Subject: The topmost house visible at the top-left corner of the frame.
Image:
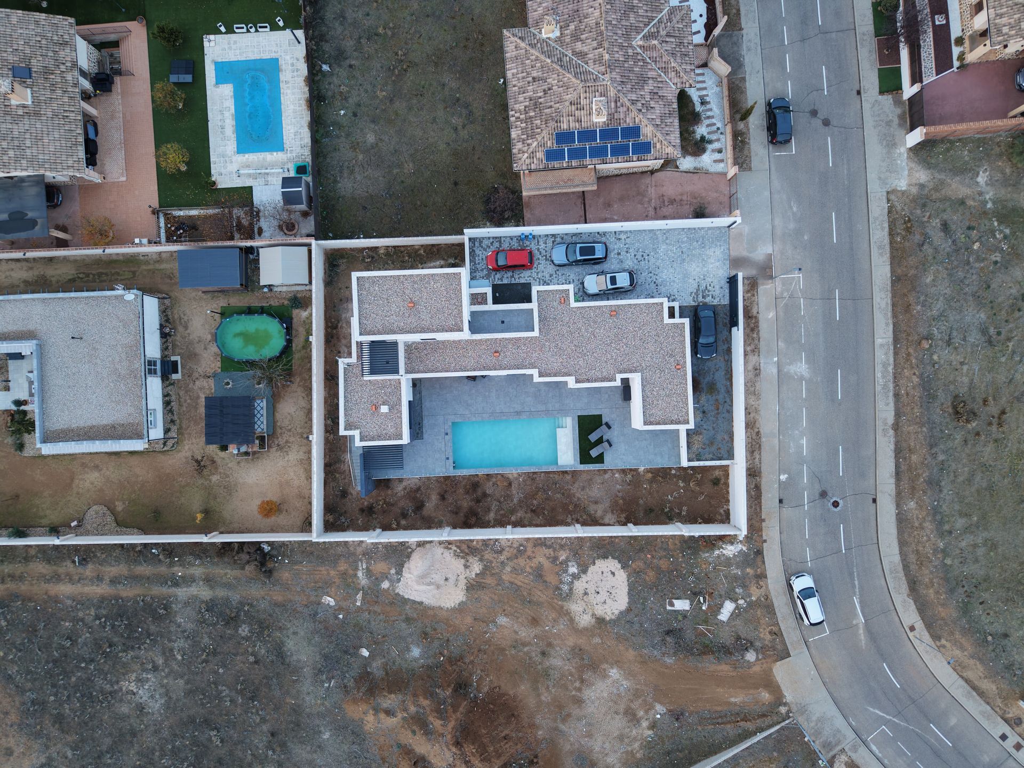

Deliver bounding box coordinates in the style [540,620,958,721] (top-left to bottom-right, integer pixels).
[0,14,108,186]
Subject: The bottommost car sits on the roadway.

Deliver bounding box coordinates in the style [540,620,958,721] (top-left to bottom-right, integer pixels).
[788,572,826,628]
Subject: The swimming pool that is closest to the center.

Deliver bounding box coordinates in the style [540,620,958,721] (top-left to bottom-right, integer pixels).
[445,417,574,470]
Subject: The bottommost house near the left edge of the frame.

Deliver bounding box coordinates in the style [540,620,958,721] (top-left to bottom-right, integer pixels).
[0,282,176,454]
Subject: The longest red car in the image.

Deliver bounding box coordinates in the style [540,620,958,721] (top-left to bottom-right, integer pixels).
[487,247,533,272]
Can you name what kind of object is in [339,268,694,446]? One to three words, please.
house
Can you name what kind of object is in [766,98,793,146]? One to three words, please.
car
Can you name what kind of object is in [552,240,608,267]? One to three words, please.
car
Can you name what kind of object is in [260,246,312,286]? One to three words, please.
shed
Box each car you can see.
[582,270,637,296]
[693,305,720,359]
[788,572,826,628]
[766,98,793,146]
[552,240,608,267]
[487,247,533,272]
[46,185,63,209]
